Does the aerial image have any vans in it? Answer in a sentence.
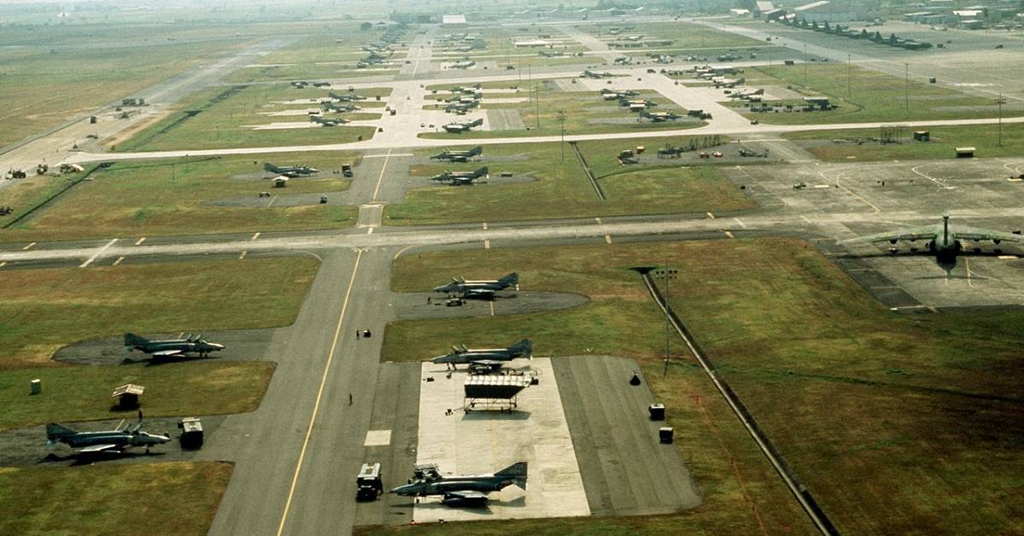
Yes, a van is visible in the scene.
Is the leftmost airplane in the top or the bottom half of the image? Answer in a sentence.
The leftmost airplane is in the bottom half of the image.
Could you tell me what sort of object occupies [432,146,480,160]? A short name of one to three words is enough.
airplane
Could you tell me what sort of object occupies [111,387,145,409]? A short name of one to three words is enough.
shed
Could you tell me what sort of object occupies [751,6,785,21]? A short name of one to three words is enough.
hangar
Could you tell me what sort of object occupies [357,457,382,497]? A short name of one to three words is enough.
truck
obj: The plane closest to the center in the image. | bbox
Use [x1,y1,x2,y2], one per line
[434,272,518,297]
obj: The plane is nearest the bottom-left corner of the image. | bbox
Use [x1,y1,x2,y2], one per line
[42,425,170,460]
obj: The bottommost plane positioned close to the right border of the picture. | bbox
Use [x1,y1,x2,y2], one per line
[830,218,1024,258]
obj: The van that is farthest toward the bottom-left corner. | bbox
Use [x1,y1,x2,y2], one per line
[176,413,205,442]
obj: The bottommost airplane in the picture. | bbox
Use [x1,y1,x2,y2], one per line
[389,463,528,507]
